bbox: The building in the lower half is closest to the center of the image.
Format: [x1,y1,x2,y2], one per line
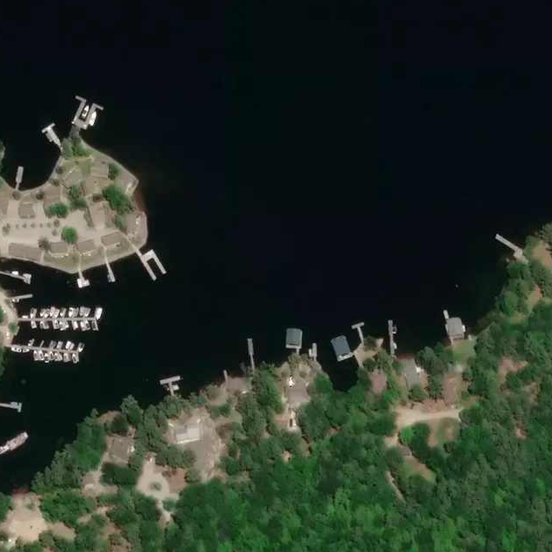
[285,330,303,350]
